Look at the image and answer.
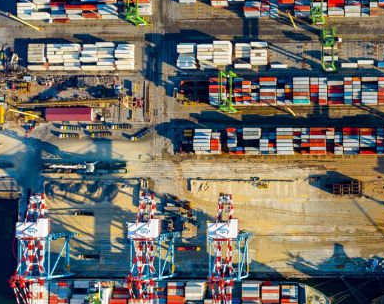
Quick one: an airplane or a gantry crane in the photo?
gantry crane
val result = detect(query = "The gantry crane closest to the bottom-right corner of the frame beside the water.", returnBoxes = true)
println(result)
[205,194,256,304]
